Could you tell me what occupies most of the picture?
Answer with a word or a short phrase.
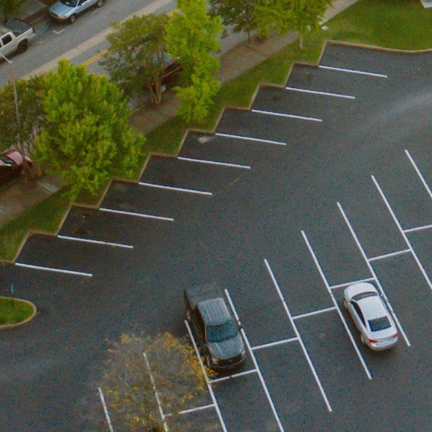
paved ground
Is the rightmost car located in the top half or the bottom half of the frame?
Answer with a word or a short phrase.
bottom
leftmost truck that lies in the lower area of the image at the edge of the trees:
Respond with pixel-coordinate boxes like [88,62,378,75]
[186,284,245,367]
